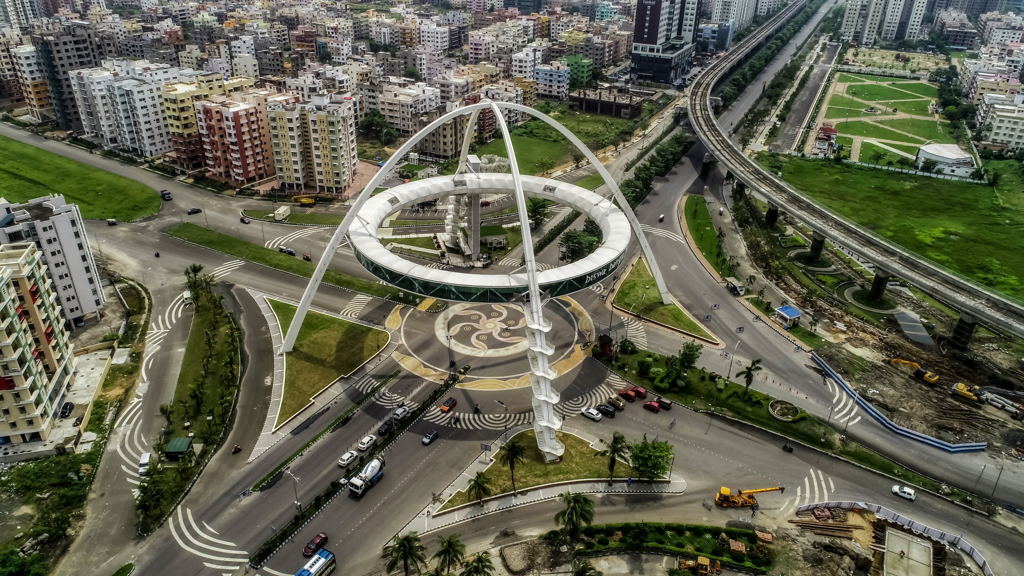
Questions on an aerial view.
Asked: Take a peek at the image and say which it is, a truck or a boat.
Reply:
truck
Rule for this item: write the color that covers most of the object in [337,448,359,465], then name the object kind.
white car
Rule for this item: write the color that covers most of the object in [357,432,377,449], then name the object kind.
white car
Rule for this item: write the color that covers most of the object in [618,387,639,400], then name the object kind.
red vehicle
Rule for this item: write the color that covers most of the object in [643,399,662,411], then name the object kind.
red vehicle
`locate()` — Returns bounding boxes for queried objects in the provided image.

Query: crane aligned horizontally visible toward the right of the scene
[717,487,788,509]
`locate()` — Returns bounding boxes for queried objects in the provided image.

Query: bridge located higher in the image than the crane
[688,0,1024,355]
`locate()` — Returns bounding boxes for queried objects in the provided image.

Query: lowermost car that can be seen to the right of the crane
[893,485,917,499]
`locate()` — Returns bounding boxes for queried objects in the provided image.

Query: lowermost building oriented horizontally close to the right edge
[907,141,997,182]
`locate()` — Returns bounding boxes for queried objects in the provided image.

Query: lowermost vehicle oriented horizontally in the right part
[678,554,724,576]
